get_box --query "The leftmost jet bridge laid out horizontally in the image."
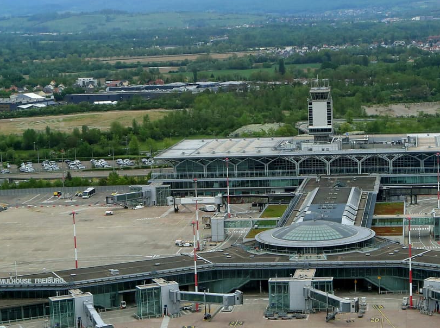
[105,189,146,206]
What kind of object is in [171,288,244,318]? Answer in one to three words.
jet bridge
